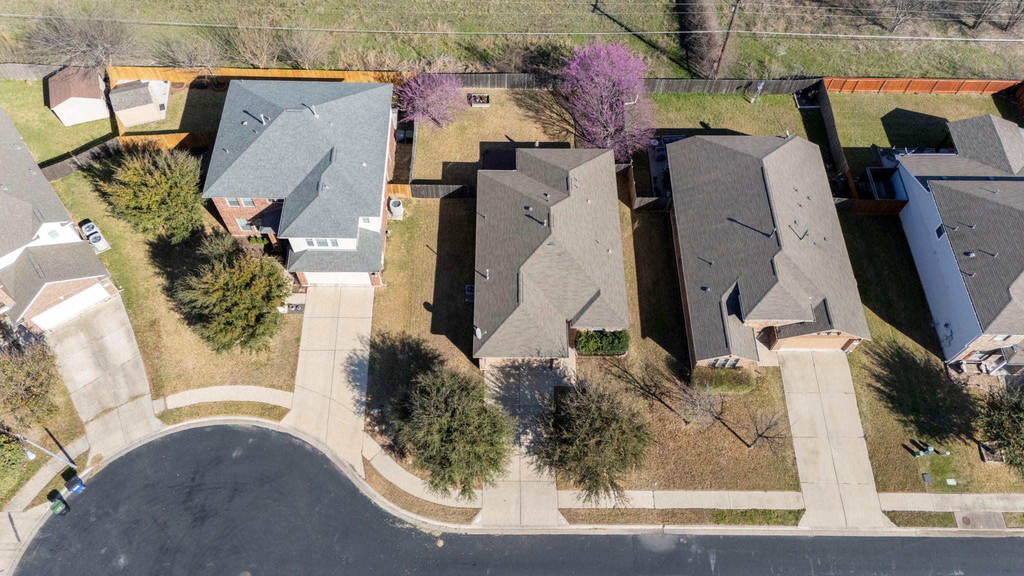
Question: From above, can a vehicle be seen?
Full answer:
No, there appears to be no vehicle in this shot.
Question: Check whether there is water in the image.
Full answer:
No, the scene doesn't show any water.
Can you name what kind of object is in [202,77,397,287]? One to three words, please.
house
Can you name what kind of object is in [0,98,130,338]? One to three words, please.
house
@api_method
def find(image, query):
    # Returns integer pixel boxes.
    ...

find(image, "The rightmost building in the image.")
[889,114,1024,376]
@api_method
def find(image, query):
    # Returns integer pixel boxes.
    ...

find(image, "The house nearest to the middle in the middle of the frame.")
[472,148,630,374]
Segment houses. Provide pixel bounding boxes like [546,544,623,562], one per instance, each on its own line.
[202,77,397,287]
[667,136,872,372]
[472,148,630,374]
[889,114,1024,376]
[0,98,130,338]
